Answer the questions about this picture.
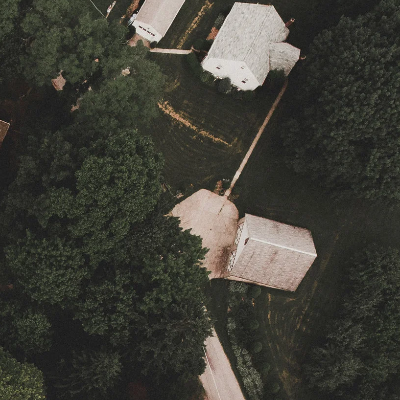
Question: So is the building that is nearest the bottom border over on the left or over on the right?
right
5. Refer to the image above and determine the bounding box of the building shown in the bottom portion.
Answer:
[227,213,318,291]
